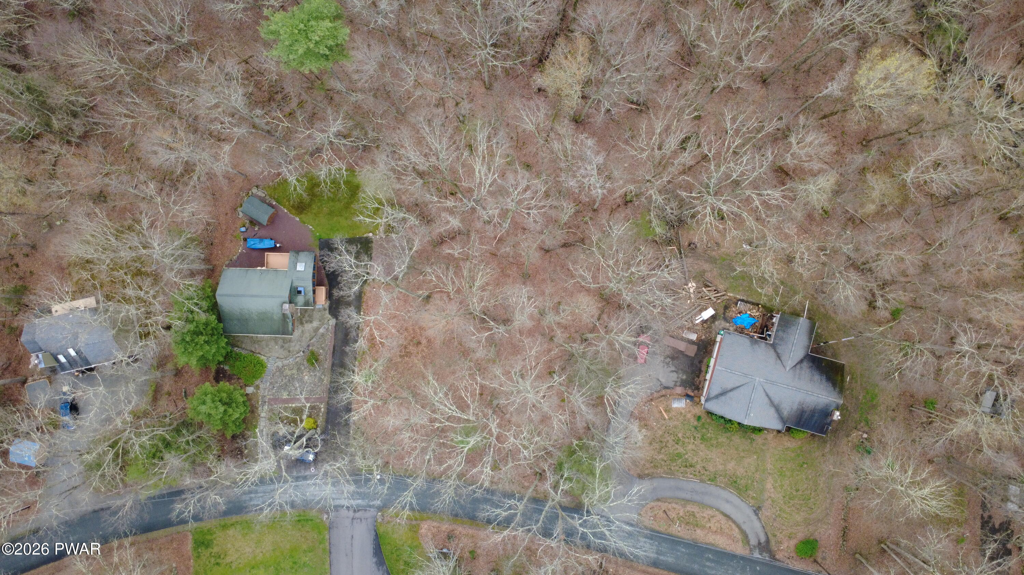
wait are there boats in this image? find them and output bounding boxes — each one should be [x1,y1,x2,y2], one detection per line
[246,237,282,250]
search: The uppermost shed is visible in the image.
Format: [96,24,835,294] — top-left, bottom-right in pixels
[241,196,281,225]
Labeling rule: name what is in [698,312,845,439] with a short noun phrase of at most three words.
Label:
house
